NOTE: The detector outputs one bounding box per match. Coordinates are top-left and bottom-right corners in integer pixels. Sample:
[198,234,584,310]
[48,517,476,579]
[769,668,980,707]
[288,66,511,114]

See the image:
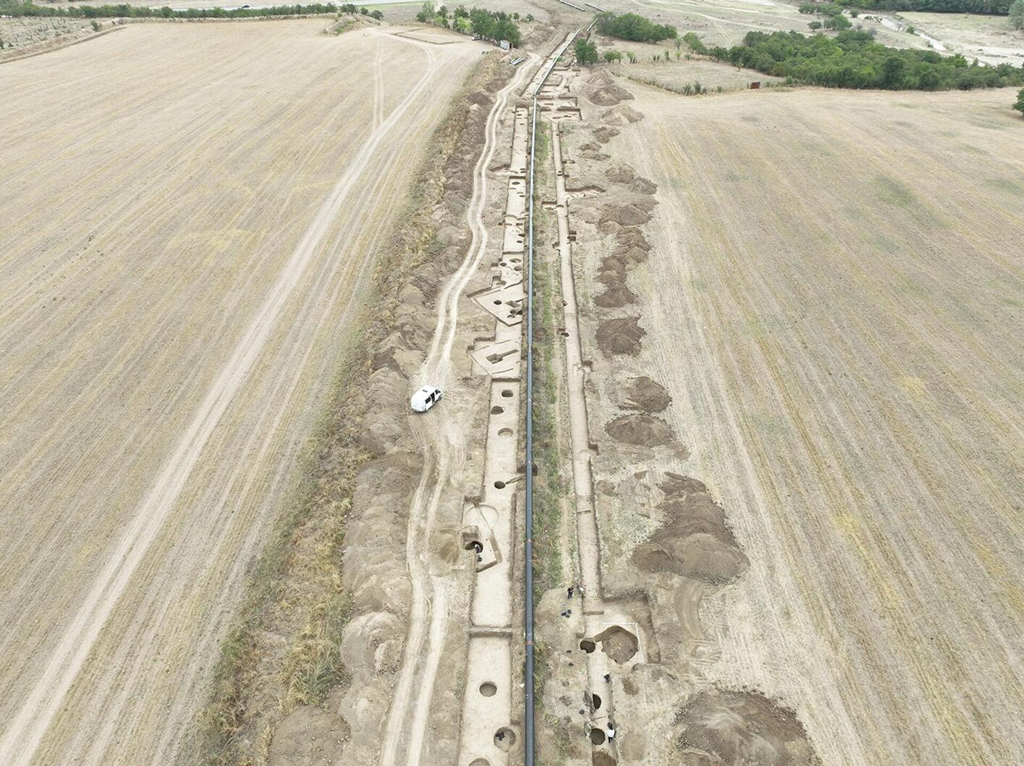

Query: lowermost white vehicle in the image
[412,385,445,411]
